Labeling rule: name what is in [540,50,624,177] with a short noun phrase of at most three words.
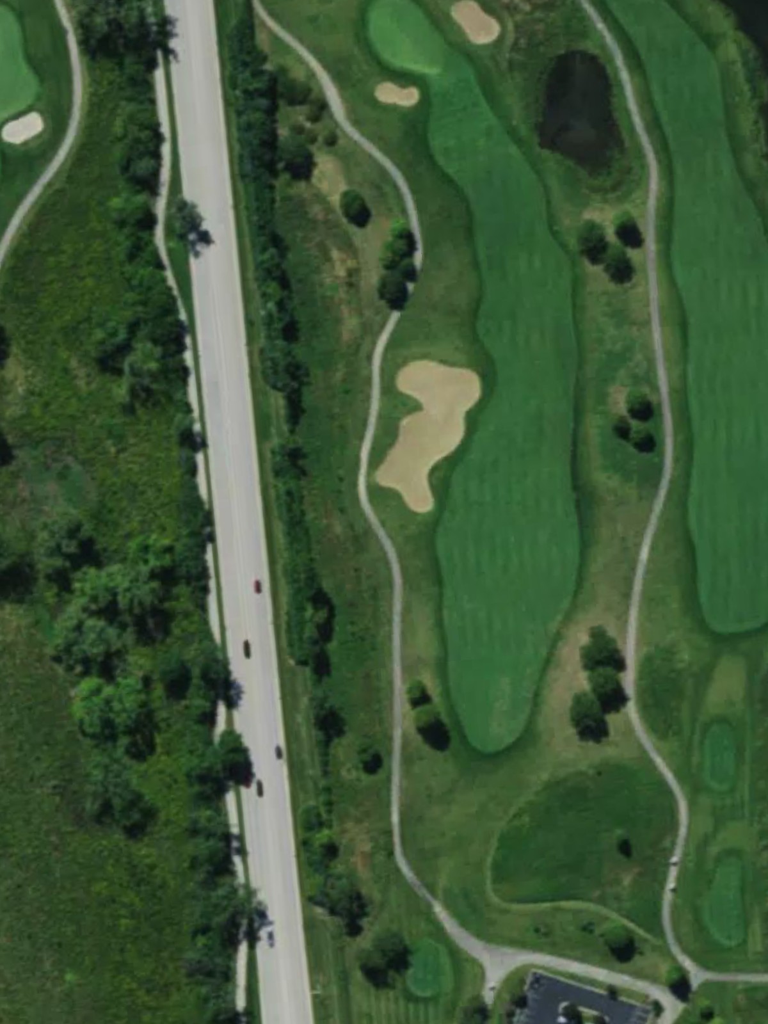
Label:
pond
